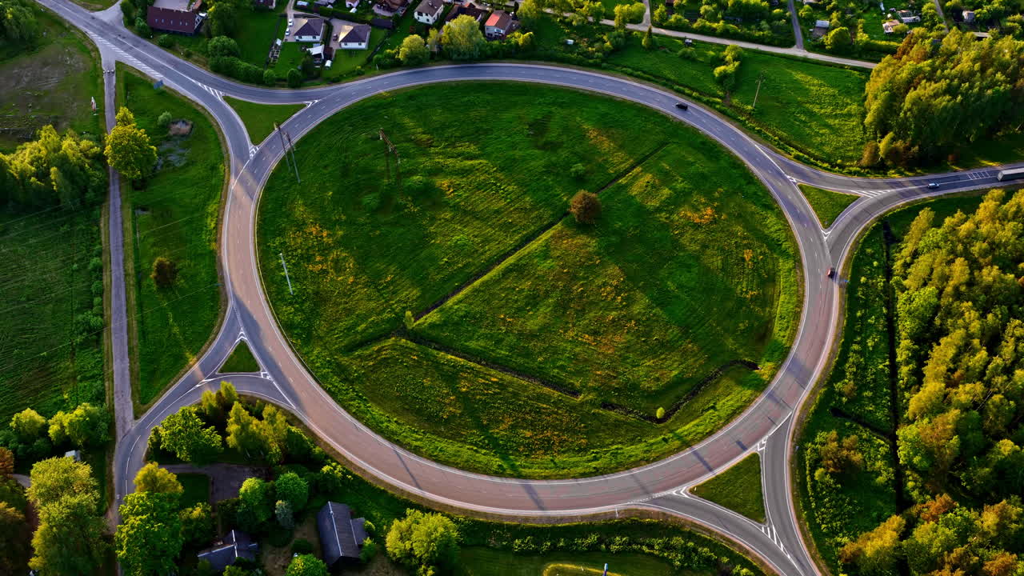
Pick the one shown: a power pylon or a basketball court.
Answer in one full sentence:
Visible in the photo is a power pylon.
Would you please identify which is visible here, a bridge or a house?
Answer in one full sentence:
Looking from above, you can make out a house.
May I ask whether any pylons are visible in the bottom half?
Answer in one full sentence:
No, no pylon appears in the bottom half.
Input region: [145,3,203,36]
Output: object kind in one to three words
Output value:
house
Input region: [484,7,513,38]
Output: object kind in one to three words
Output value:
house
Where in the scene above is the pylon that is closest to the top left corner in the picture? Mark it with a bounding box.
[272,120,300,182]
